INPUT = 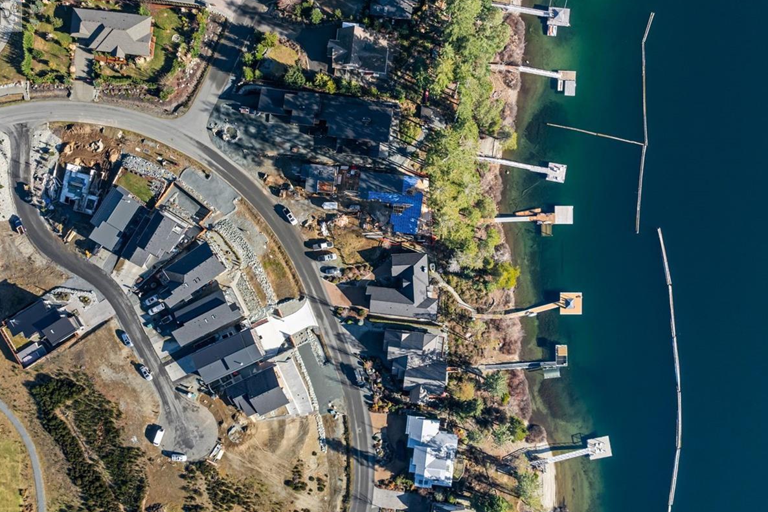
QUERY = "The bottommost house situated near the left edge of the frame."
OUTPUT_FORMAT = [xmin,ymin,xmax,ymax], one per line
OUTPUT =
[8,298,85,367]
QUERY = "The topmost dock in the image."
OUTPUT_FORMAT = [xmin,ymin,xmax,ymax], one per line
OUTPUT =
[492,0,571,26]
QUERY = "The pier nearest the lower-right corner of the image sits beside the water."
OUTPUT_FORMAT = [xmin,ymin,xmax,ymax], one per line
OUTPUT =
[531,435,614,467]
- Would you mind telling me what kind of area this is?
residential area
